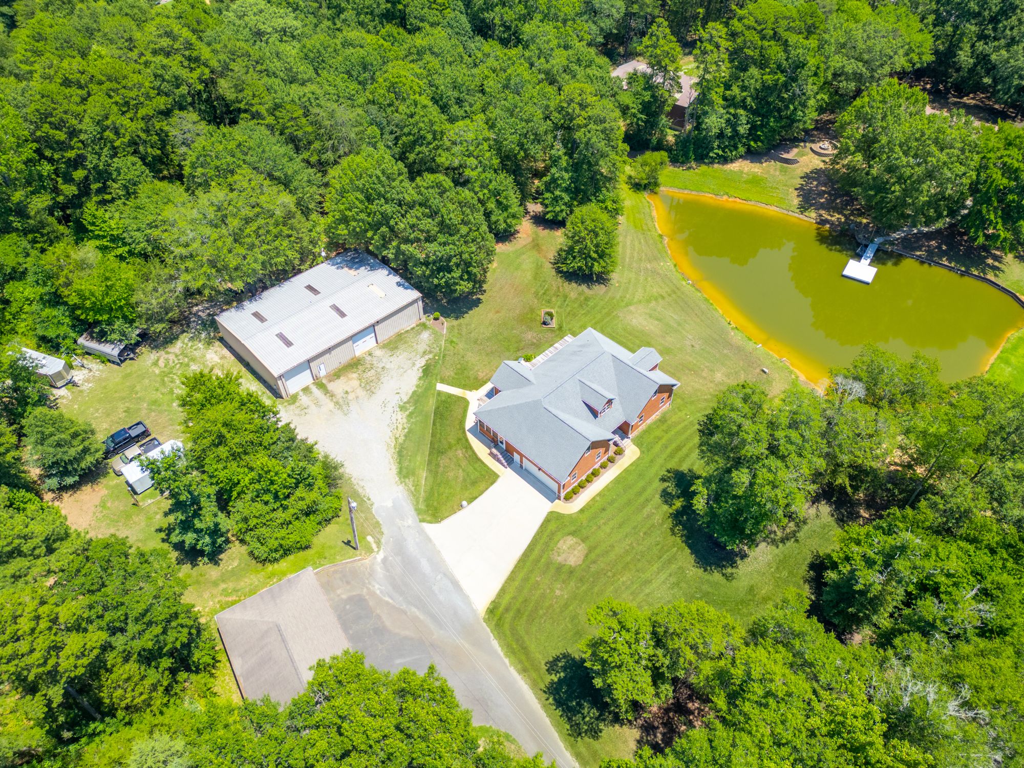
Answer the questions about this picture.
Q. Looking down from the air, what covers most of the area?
trees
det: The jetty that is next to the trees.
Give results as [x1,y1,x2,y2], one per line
[842,243,878,285]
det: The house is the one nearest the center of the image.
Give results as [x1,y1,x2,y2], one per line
[472,327,680,499]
